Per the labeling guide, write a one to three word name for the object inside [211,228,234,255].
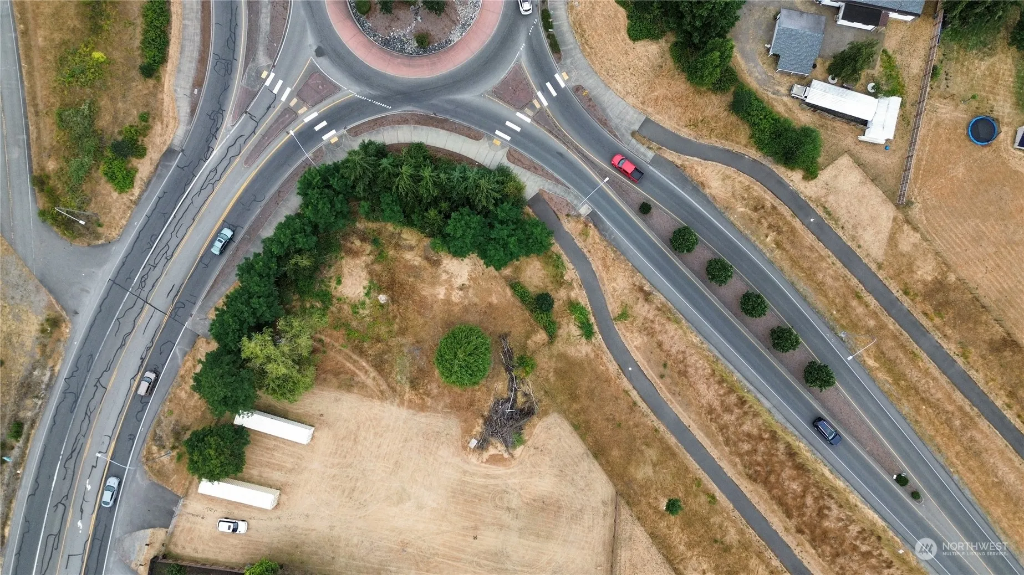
car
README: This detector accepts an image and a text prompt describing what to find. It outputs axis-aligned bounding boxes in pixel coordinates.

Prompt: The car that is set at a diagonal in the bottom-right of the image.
[812,415,841,446]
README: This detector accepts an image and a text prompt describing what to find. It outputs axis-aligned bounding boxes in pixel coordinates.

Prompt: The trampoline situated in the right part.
[967,113,1004,147]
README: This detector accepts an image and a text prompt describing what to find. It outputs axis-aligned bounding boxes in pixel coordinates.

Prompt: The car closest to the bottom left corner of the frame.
[102,475,122,508]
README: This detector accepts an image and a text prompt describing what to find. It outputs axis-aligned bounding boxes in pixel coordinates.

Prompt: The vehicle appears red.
[612,154,644,182]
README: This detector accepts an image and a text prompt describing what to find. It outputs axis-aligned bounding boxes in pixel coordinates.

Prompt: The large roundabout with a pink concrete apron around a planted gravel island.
[291,0,538,111]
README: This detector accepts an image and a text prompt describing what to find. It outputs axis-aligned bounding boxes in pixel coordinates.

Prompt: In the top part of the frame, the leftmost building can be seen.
[768,8,825,82]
